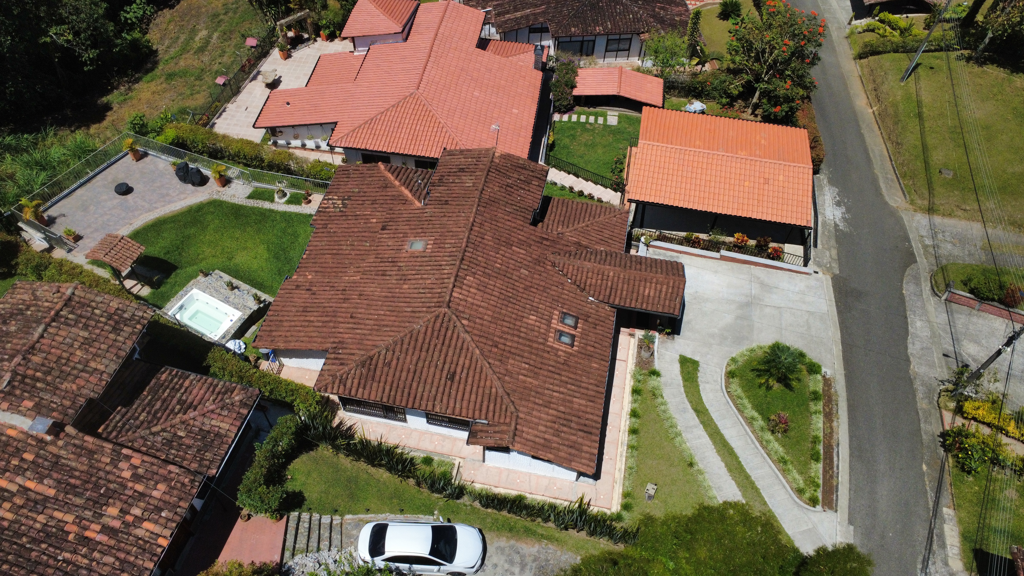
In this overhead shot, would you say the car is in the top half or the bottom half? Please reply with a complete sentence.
The bottom half of the photo is where the car is.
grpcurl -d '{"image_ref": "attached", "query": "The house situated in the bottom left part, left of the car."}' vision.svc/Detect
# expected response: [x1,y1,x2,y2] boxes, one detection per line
[0,278,262,576]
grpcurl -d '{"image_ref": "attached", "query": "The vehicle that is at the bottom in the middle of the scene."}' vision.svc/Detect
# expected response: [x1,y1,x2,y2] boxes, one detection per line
[357,514,489,576]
